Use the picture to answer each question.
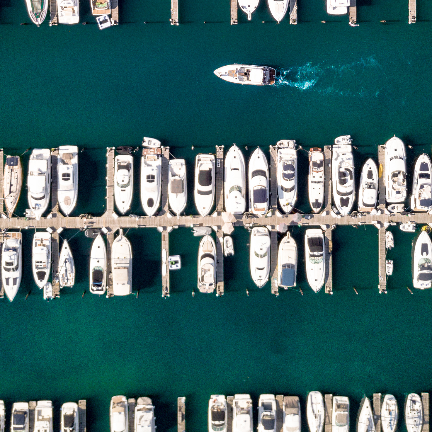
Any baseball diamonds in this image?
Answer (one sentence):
No, there's no baseball diamond here.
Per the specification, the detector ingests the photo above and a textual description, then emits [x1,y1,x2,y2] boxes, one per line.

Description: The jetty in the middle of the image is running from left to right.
[0,144,432,299]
